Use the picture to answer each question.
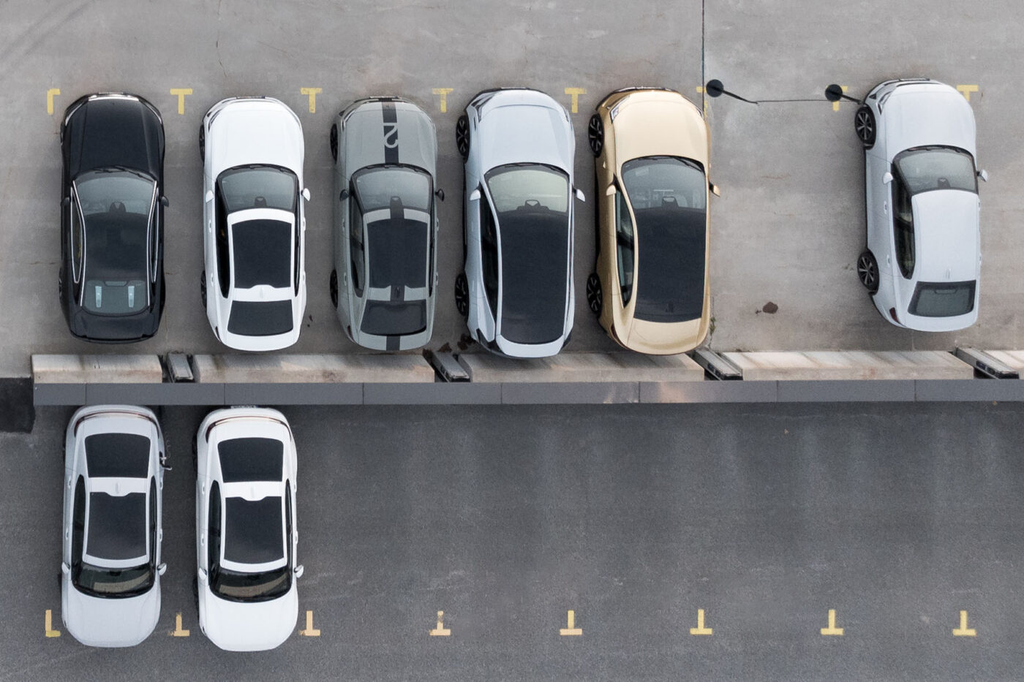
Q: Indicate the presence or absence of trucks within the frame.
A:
No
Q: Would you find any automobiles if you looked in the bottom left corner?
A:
Yes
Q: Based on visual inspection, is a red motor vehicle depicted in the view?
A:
No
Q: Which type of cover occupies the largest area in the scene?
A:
paved ground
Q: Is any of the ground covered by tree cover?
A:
No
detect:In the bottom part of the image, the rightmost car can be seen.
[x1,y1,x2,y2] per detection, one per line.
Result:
[191,404,305,652]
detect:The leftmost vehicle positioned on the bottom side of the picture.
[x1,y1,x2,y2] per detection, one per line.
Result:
[59,403,171,648]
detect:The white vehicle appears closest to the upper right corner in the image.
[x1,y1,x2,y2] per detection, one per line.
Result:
[854,78,990,334]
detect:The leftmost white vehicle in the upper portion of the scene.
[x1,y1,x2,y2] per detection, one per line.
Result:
[198,95,313,351]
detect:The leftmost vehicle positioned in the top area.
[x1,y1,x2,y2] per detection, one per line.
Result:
[59,92,170,344]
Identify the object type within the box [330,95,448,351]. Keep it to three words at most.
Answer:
car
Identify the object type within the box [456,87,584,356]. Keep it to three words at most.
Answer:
car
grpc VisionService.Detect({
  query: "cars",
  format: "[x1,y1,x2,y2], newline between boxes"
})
[191,404,305,652]
[59,92,170,344]
[587,86,720,354]
[59,403,171,648]
[330,95,448,351]
[854,78,990,334]
[198,95,313,351]
[456,87,584,356]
